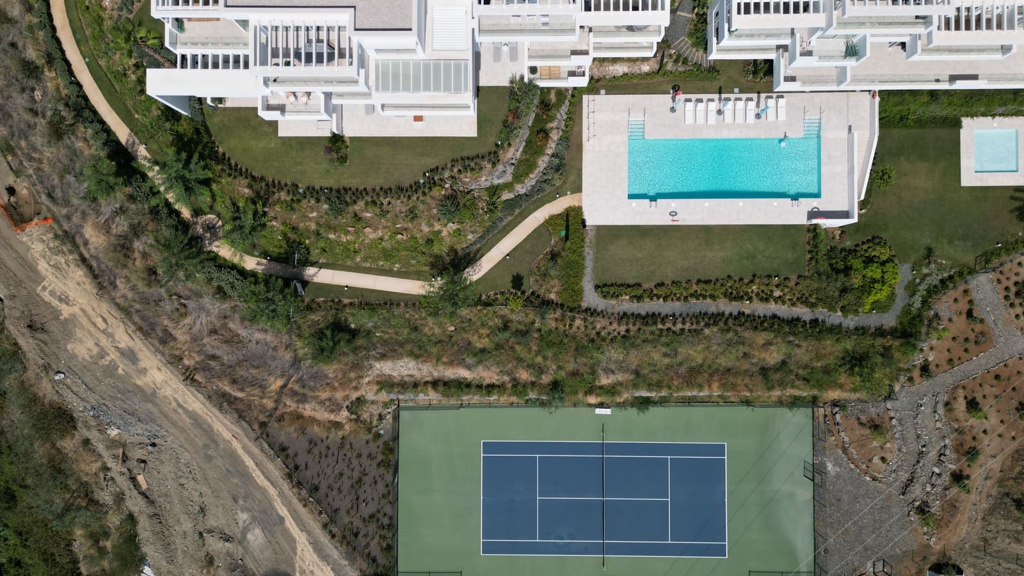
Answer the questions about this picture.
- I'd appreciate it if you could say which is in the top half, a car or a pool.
pool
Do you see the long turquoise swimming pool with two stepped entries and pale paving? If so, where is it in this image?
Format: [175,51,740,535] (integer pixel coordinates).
[582,91,855,226]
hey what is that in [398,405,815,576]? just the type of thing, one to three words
tennis court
